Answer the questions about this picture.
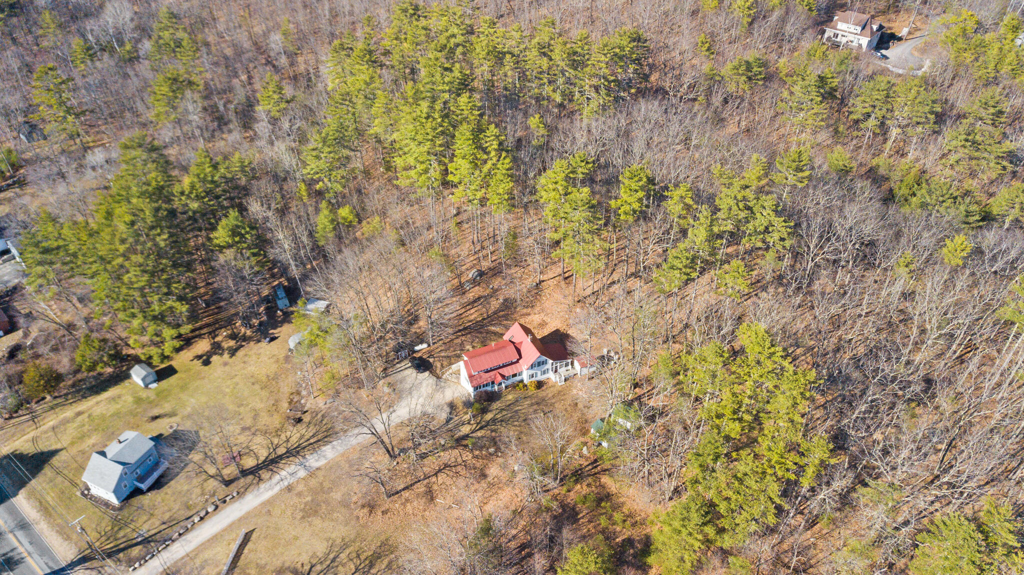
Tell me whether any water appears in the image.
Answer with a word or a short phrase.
No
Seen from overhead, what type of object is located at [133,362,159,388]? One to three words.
shed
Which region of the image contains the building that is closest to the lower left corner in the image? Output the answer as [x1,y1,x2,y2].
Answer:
[83,429,169,503]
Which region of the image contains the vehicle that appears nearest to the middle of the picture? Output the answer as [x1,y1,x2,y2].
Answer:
[412,354,429,372]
